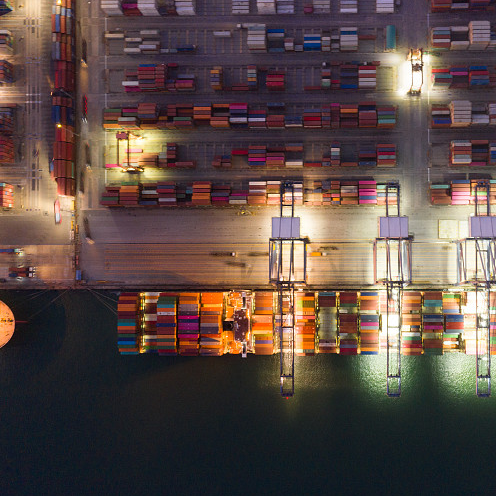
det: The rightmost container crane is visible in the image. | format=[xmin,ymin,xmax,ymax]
[448,181,496,398]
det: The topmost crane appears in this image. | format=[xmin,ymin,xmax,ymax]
[401,48,423,105]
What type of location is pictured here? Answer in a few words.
port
